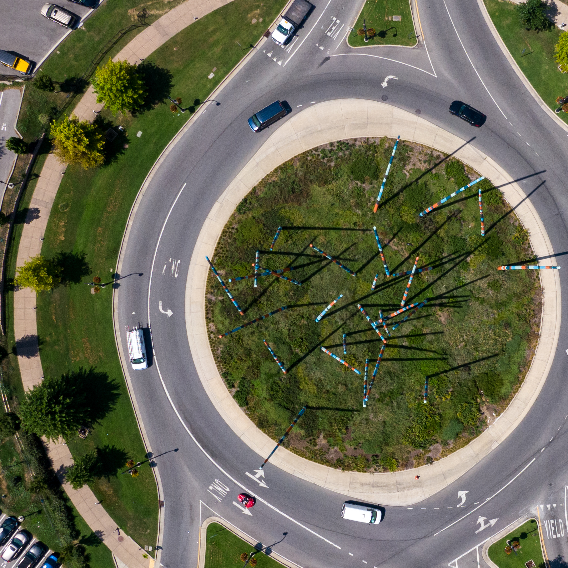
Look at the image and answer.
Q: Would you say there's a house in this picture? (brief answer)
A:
No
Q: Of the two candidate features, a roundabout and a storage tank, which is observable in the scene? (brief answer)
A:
roundabout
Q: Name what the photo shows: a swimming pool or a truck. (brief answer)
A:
truck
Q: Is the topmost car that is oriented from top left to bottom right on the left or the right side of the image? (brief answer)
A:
left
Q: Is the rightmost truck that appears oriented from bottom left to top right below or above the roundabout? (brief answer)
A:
above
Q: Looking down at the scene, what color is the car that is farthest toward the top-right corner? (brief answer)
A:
black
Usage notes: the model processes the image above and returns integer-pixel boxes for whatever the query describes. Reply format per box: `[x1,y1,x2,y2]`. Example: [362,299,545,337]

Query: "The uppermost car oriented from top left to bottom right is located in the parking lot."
[41,2,76,31]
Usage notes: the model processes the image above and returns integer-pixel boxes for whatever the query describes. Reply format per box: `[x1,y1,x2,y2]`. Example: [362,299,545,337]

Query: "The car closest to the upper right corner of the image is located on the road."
[450,103,485,127]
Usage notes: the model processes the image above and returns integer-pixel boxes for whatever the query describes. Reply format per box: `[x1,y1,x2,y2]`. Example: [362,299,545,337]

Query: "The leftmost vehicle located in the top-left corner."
[0,49,32,76]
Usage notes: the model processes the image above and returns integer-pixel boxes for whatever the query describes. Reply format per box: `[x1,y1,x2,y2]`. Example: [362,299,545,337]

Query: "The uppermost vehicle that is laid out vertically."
[126,322,148,370]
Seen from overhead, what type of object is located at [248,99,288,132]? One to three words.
van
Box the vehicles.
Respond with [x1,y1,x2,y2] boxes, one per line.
[248,99,288,132]
[1,530,32,565]
[0,516,19,549]
[340,502,383,523]
[238,493,257,510]
[126,322,148,370]
[67,0,98,9]
[0,49,32,76]
[450,103,485,127]
[18,540,50,568]
[41,2,76,31]
[273,0,315,44]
